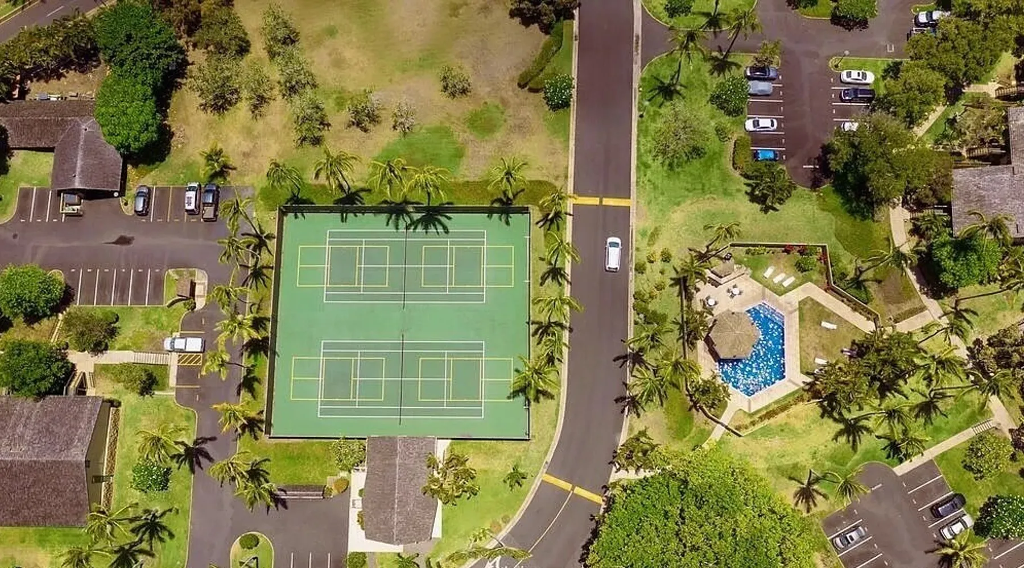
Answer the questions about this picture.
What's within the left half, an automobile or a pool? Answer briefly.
automobile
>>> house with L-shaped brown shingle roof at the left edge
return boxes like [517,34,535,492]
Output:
[0,100,124,192]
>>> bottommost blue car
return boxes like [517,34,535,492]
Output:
[752,148,780,162]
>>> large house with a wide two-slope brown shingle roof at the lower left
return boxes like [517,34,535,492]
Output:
[0,396,111,527]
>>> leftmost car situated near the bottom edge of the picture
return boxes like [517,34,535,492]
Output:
[831,526,866,549]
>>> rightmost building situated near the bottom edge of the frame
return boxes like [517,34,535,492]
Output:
[362,438,438,545]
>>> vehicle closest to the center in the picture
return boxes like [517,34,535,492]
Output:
[605,237,622,272]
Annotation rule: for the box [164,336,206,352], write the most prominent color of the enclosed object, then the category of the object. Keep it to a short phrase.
white vehicle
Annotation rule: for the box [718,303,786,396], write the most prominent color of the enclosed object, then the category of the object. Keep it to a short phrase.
blue swimming pool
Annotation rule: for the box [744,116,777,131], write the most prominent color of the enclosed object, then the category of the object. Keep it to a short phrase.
white car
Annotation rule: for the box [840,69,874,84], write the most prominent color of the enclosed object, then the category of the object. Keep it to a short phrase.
white car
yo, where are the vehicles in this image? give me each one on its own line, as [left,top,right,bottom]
[752,148,780,162]
[831,526,866,549]
[914,10,947,26]
[744,65,777,80]
[840,69,874,84]
[185,182,203,215]
[133,186,152,216]
[929,494,968,519]
[202,183,220,221]
[744,116,777,131]
[605,237,622,272]
[164,336,206,352]
[747,80,774,94]
[839,87,875,103]
[938,515,975,540]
